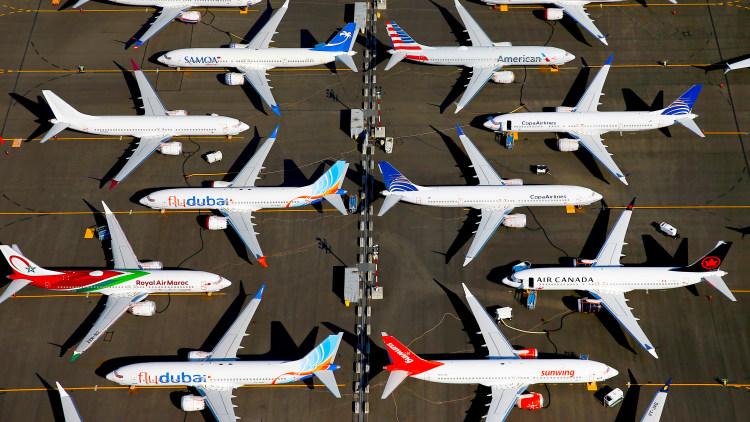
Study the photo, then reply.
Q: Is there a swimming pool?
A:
No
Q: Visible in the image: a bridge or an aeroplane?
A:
aeroplane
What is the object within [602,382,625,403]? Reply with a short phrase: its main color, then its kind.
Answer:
white vehicle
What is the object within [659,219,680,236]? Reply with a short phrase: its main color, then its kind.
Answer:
white vehicle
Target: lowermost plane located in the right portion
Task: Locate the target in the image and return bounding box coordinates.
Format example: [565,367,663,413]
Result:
[646,381,675,422]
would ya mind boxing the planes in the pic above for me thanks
[0,201,230,360]
[483,54,704,185]
[724,56,750,73]
[385,0,576,113]
[382,282,620,422]
[139,124,349,267]
[378,123,604,267]
[502,197,735,358]
[75,0,261,49]
[157,0,360,114]
[107,284,344,422]
[646,381,675,422]
[485,0,627,47]
[41,59,248,188]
